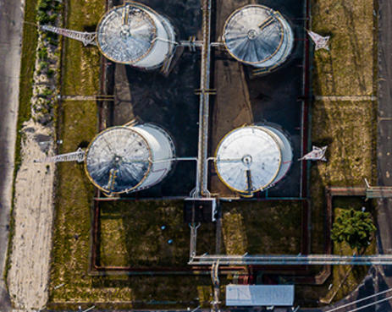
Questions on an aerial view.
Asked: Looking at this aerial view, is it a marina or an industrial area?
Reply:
industrial area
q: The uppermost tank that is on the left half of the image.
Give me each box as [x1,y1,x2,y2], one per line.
[93,0,177,72]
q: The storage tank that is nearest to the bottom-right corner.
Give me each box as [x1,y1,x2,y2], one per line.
[213,122,293,198]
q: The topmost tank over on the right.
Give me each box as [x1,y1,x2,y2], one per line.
[221,4,296,69]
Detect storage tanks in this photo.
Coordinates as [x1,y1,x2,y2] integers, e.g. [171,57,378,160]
[93,0,177,72]
[221,4,296,69]
[213,122,293,198]
[82,124,175,199]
